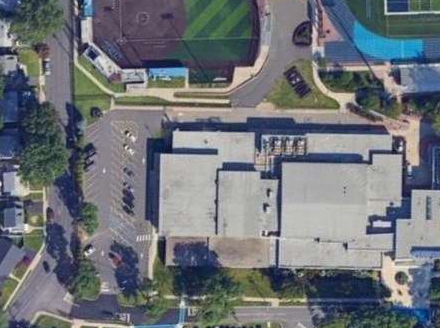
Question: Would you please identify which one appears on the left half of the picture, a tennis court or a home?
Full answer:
Looking on the left half of the picture, you will find a home.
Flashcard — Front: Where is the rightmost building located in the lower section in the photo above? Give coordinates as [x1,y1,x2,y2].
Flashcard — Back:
[158,131,440,269]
